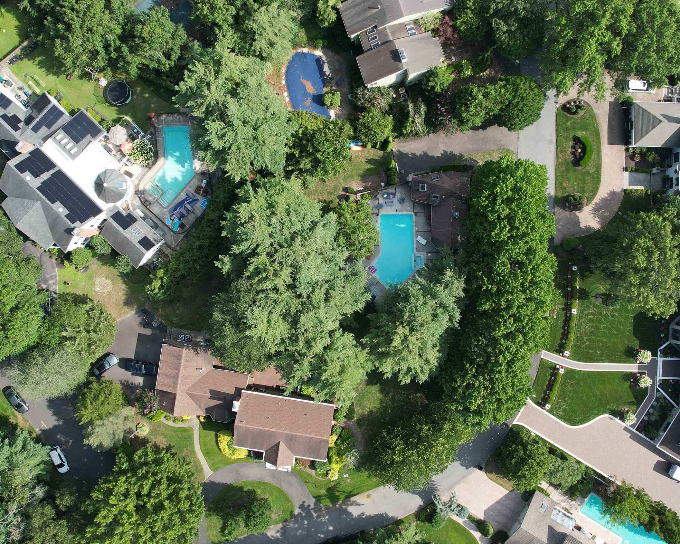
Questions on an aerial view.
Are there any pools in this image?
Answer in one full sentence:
Yes, the frame does contain a pool.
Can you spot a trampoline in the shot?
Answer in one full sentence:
Yes, there's a trampoline here.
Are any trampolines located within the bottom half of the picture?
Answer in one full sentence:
No, I see no trampoline within the bottom half of the picture.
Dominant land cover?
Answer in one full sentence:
The scene is dominated by trees.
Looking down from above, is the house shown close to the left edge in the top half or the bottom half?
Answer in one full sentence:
The house shown close to the left edge sits in the top half of the picture.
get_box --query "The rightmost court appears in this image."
[172,0,206,36]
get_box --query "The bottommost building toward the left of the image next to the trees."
[154,343,335,471]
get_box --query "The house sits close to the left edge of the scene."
[0,86,169,266]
